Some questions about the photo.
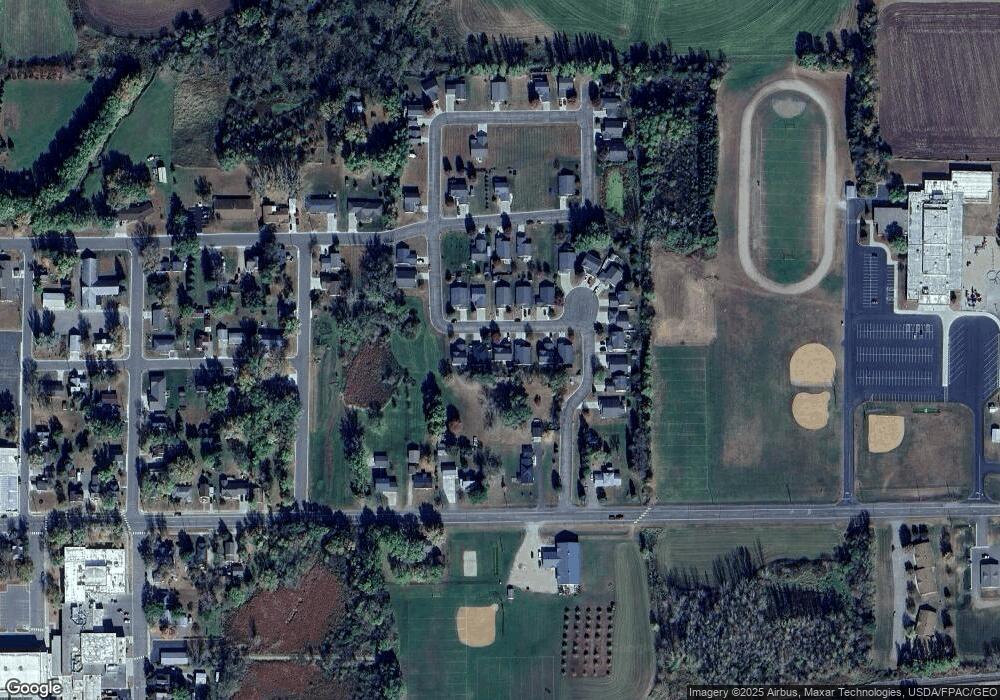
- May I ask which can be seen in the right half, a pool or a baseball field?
baseball field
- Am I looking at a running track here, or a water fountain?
running track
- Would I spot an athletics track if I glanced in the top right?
Yes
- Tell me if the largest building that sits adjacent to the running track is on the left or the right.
right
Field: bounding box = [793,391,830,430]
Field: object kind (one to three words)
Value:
baseball field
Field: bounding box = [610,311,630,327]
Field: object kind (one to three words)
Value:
house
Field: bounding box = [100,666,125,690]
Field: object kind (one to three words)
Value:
building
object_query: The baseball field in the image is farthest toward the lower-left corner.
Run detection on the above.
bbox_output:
[457,600,504,647]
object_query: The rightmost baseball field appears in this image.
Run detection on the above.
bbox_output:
[866,412,905,453]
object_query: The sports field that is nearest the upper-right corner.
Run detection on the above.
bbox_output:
[756,117,823,279]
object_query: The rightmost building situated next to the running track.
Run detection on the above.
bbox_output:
[874,172,991,306]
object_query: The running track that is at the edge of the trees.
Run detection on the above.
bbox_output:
[738,81,846,294]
